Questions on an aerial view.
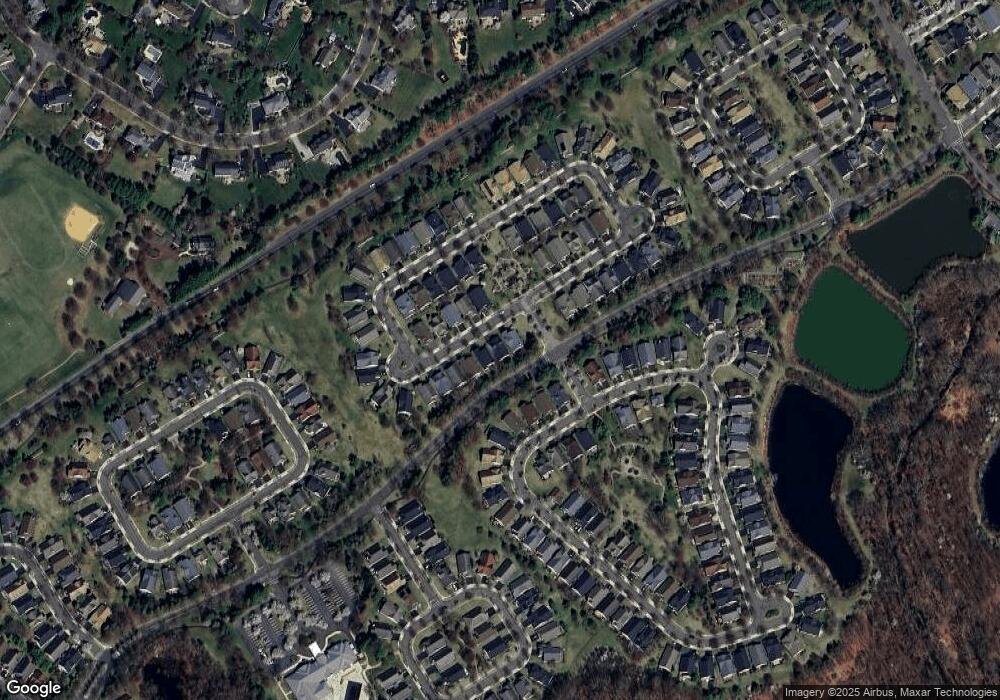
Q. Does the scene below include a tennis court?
No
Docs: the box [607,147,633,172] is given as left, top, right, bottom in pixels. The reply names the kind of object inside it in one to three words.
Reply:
house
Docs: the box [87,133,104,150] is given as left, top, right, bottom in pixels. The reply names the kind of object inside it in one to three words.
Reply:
swimming pool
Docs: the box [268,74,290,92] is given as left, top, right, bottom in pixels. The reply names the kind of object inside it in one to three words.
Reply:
swimming pool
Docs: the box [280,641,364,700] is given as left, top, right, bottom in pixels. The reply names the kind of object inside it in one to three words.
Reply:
building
